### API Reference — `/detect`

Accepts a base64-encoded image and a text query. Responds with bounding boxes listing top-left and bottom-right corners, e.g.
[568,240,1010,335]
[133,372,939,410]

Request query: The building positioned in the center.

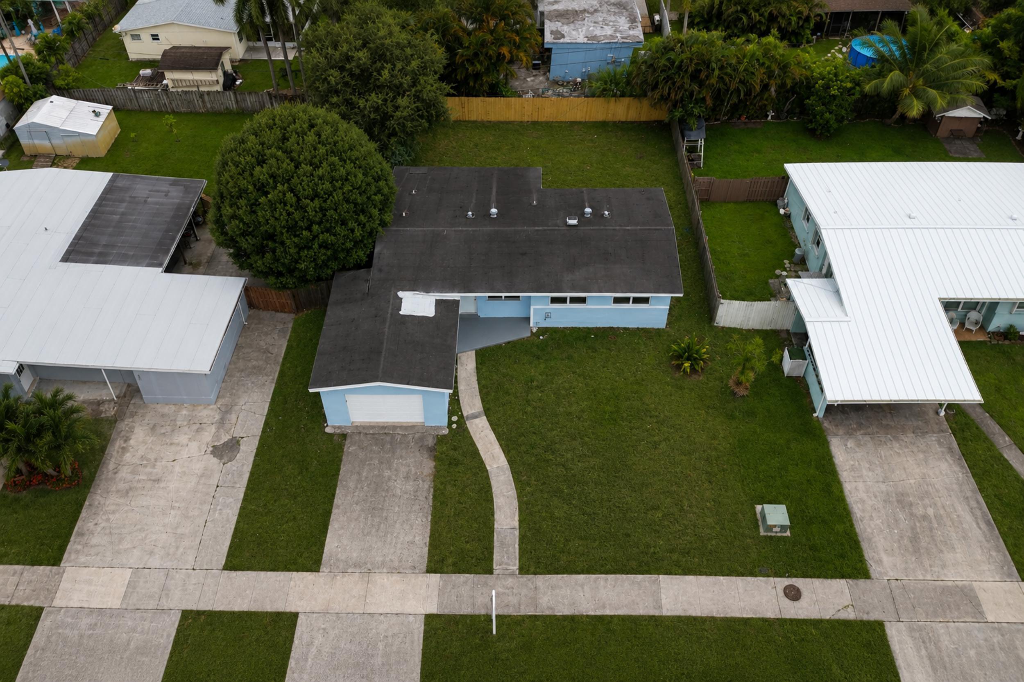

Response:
[308,170,685,425]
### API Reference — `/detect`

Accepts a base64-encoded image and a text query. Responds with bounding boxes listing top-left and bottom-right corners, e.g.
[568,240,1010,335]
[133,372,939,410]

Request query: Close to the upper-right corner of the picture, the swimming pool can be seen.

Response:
[846,32,908,73]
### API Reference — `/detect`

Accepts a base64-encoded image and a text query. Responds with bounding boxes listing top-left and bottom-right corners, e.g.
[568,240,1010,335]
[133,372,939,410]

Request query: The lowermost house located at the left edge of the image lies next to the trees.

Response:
[0,167,251,404]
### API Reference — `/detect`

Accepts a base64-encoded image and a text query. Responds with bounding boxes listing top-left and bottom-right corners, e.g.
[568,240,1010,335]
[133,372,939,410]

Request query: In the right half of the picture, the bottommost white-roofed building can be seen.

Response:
[782,163,1024,418]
